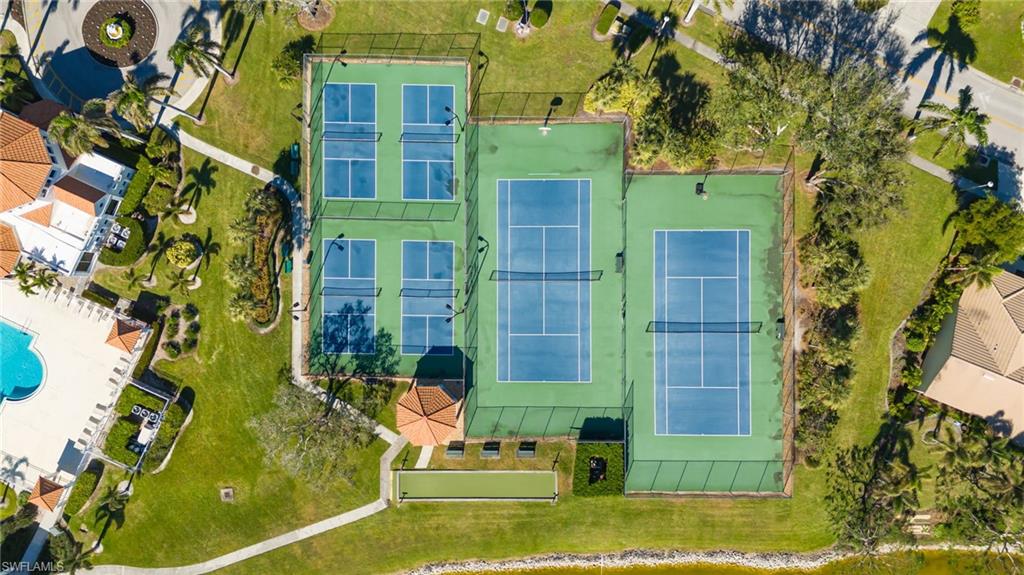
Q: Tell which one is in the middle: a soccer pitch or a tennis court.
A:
tennis court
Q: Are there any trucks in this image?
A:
No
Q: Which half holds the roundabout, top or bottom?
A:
top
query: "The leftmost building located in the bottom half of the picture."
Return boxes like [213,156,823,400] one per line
[28,471,79,512]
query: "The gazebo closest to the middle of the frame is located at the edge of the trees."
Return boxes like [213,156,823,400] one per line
[397,386,456,445]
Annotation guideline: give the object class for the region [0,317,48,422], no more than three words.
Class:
swimming pool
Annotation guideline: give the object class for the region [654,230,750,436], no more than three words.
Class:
tennis court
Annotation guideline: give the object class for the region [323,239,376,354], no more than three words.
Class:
sports court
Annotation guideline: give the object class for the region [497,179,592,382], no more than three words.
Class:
tennis court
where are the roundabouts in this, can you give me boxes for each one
[82,0,159,67]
